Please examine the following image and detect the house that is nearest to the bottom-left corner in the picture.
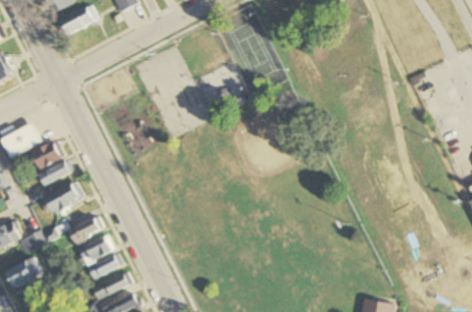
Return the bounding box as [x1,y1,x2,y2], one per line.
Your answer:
[6,255,42,288]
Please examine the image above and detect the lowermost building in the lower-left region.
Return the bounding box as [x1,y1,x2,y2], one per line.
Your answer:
[104,292,142,312]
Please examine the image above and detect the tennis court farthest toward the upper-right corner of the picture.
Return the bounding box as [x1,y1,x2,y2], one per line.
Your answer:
[218,4,296,104]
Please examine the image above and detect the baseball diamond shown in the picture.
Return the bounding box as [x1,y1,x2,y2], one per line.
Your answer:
[231,118,304,180]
